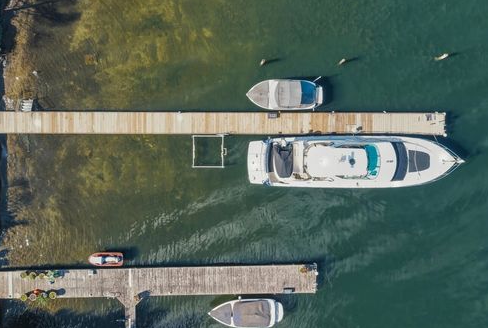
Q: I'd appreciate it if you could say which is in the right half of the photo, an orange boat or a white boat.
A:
white boat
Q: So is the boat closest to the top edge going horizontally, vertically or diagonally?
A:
horizontally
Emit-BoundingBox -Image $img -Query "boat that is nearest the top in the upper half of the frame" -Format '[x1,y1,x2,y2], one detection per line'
[245,75,322,111]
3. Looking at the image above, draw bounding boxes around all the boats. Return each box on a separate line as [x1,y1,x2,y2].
[207,298,284,328]
[88,252,124,266]
[245,75,322,111]
[247,135,469,188]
